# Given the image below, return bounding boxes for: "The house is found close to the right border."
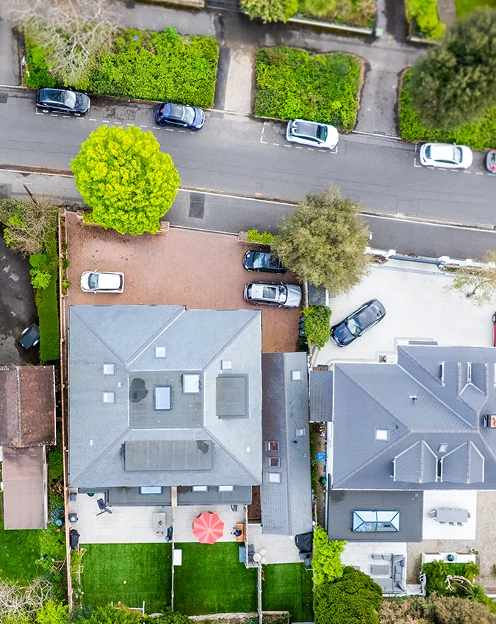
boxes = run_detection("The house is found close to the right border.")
[308,341,496,541]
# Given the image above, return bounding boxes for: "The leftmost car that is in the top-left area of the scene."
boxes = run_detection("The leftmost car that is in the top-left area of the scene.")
[36,89,92,118]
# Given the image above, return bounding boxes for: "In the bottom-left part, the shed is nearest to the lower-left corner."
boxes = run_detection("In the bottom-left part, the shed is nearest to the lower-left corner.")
[2,446,49,530]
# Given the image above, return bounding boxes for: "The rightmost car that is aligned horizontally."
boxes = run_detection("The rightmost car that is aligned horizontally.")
[417,143,472,171]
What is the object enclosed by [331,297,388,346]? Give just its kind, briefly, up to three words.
car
